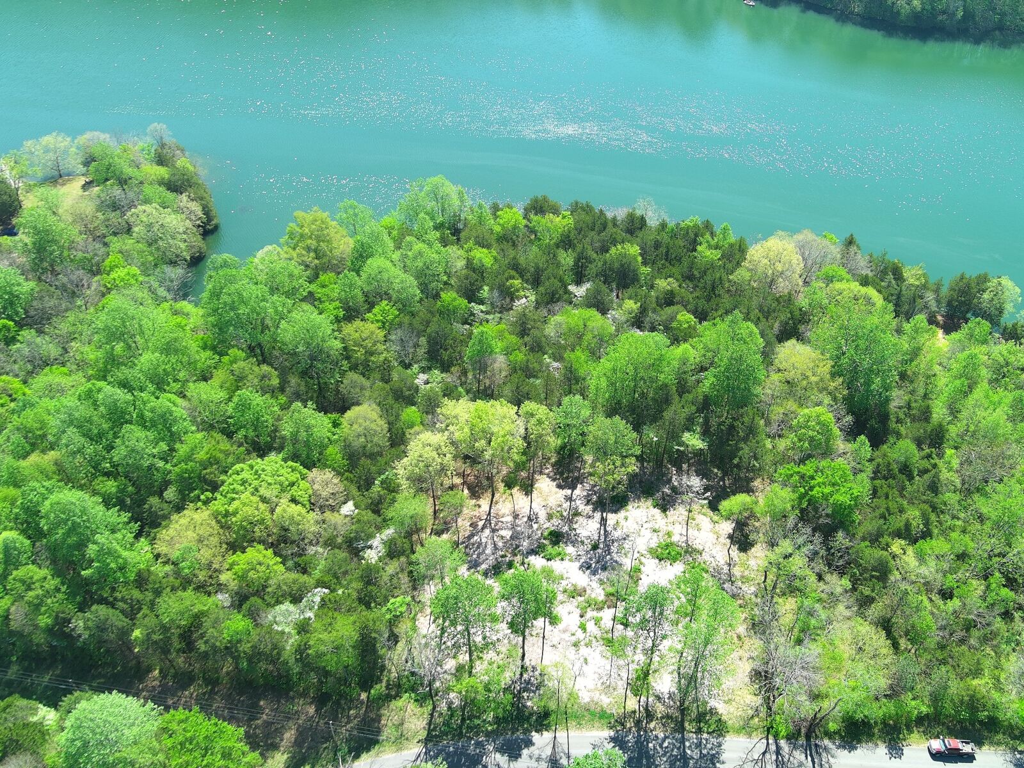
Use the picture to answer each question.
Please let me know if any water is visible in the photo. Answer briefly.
Yes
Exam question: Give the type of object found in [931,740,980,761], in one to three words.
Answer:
truck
